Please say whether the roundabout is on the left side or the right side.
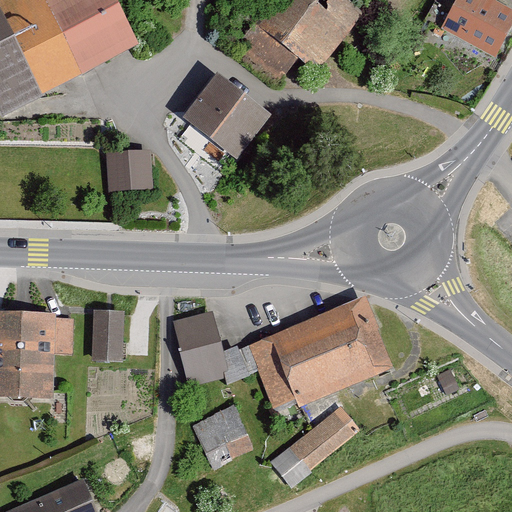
right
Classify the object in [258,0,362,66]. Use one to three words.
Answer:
house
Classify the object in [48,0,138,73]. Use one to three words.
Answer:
barn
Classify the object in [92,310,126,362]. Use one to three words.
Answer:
shed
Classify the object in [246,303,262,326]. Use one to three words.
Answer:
car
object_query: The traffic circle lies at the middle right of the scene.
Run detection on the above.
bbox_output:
[330,175,454,299]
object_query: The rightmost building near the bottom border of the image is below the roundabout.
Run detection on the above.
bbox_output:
[271,408,360,488]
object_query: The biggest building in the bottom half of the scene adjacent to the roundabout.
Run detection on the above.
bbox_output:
[248,296,394,409]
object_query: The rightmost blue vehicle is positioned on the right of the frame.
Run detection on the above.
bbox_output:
[310,291,324,310]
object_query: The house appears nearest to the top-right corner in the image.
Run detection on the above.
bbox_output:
[443,0,512,56]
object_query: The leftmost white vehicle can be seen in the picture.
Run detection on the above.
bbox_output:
[44,295,61,316]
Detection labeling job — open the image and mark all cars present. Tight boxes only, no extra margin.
[8,238,28,248]
[310,291,324,310]
[44,295,61,316]
[264,302,279,326]
[228,78,250,94]
[246,303,262,326]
